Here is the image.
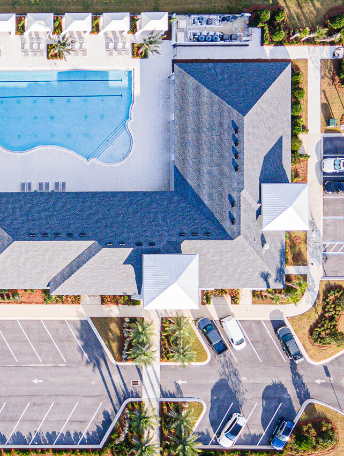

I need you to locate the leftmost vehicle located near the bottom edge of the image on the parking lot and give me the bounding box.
[218,411,245,446]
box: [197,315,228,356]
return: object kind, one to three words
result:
truck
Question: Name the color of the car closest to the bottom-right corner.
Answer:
blue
